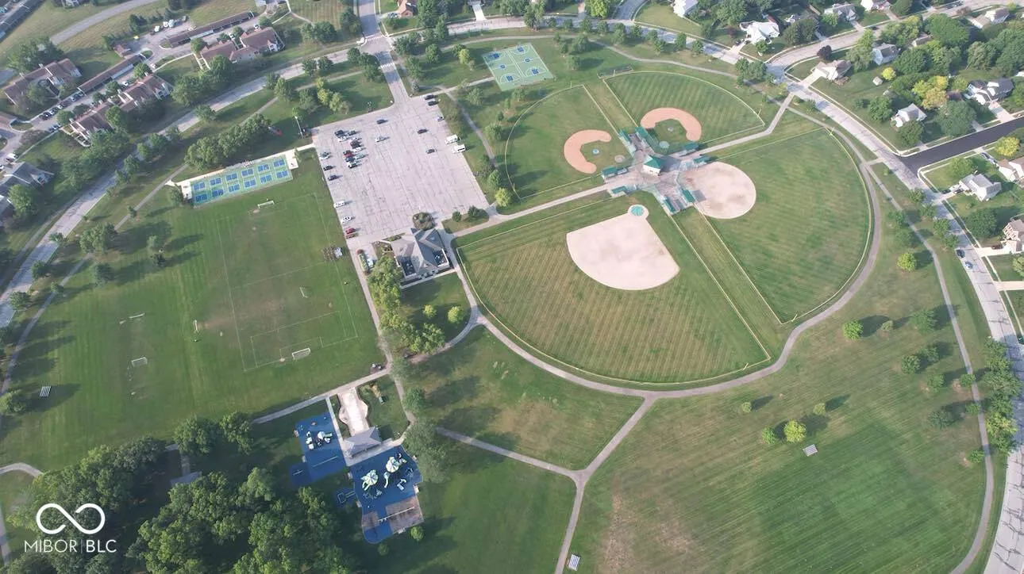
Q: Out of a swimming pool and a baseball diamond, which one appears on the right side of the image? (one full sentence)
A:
It is a baseball diamond that can be seen on the right side of the image.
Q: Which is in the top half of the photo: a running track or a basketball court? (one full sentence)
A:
It is a basketball court that can be seen in the top half of the photo.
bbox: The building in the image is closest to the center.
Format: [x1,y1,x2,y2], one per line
[391,229,448,279]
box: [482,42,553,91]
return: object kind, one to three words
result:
basketball court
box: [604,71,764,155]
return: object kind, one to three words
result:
baseball field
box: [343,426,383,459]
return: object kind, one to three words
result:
building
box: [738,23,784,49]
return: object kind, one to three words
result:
house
